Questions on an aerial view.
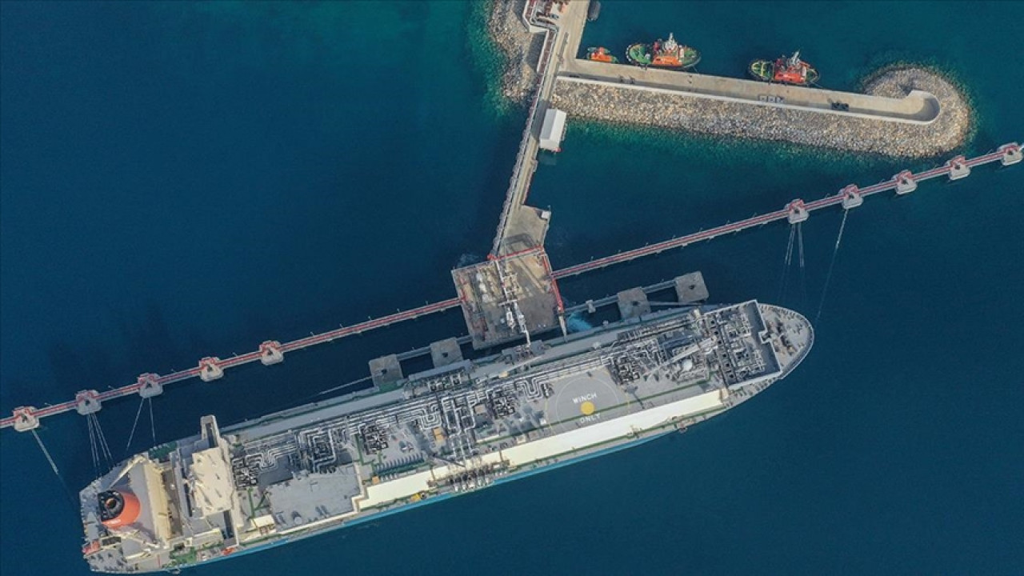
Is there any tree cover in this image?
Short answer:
No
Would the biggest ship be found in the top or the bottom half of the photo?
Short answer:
bottom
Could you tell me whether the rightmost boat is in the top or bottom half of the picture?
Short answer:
top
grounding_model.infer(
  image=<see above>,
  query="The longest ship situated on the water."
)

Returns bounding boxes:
[77,301,816,574]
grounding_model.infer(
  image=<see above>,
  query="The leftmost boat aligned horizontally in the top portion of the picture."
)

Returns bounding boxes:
[587,47,618,62]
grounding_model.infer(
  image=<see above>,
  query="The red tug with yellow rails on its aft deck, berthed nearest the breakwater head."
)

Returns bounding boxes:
[748,55,821,87]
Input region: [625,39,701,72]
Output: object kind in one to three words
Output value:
boat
